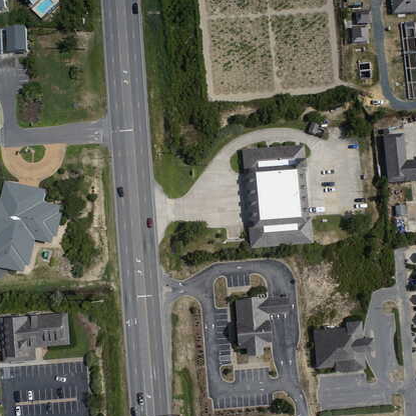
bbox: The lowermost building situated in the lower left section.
[2,313,72,362]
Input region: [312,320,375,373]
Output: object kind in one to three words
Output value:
building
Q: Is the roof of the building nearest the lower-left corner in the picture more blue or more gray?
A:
gray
